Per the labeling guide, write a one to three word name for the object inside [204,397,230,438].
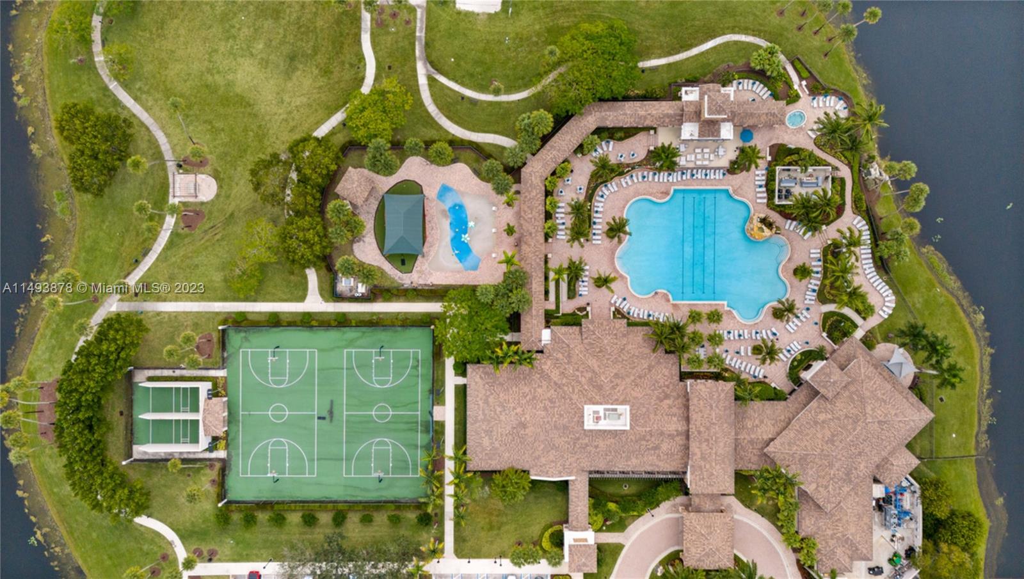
shed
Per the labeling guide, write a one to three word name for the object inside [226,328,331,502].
basketball court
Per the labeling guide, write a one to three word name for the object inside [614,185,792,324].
swimming pool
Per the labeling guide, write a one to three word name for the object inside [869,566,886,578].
vehicle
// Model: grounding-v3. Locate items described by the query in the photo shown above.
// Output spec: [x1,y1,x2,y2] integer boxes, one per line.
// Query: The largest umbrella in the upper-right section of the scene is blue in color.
[739,130,752,142]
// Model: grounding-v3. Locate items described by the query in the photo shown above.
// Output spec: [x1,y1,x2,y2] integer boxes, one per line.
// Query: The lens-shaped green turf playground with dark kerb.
[373,178,427,275]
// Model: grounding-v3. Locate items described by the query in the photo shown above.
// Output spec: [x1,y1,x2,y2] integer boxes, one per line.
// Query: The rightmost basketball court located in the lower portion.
[331,328,434,502]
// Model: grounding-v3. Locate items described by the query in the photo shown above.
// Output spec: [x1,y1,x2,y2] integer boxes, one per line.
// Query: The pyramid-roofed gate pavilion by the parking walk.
[562,524,597,573]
